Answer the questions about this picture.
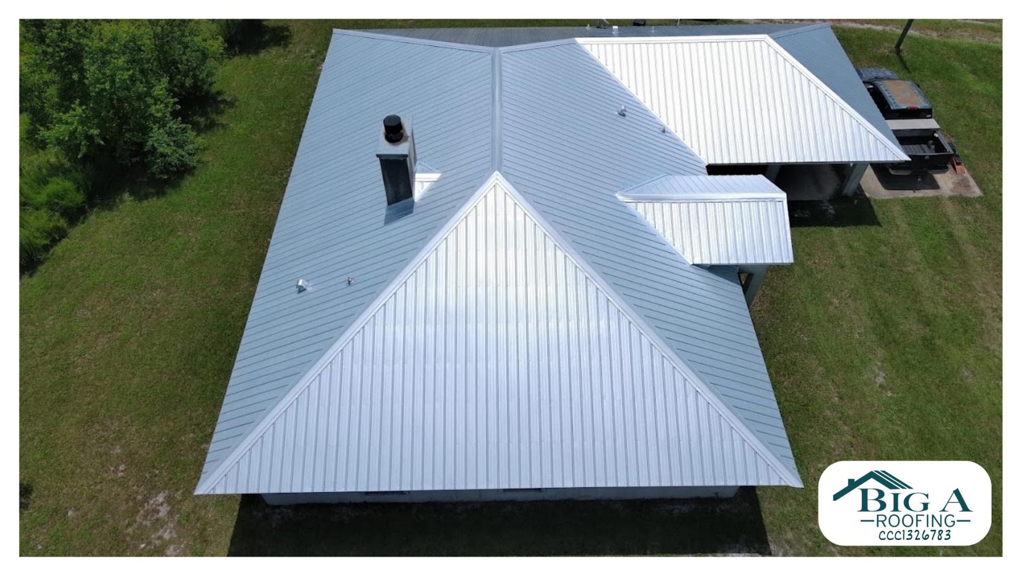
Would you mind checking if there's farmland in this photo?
No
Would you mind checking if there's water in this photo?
No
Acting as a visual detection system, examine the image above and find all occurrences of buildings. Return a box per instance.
[192,22,911,505]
